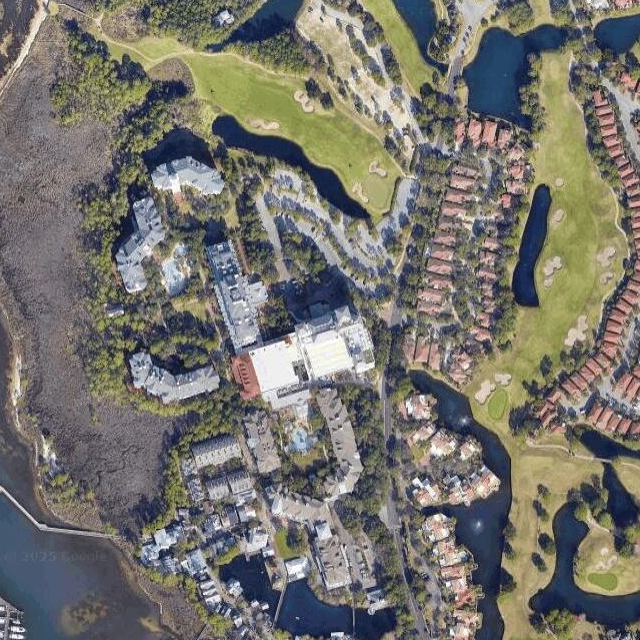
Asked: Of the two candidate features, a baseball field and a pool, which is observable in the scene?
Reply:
pool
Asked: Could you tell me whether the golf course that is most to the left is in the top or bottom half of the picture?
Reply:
top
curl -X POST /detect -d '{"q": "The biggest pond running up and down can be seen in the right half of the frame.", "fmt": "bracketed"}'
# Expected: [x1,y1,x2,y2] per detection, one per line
[512,184,551,308]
